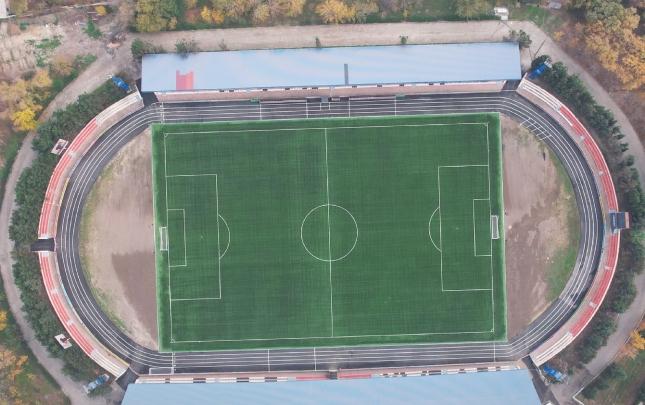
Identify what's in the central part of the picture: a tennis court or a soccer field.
soccer field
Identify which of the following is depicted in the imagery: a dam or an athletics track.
athletics track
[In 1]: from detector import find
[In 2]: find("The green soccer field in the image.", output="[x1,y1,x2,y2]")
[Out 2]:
[152,112,508,353]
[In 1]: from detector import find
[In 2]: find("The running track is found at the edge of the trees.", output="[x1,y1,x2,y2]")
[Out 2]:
[62,90,597,375]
